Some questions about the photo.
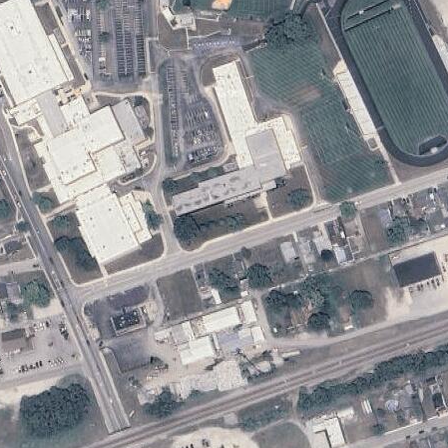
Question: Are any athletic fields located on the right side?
Yes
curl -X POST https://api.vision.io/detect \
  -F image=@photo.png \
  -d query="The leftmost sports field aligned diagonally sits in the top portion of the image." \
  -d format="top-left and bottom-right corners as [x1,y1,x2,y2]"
[252,39,386,200]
